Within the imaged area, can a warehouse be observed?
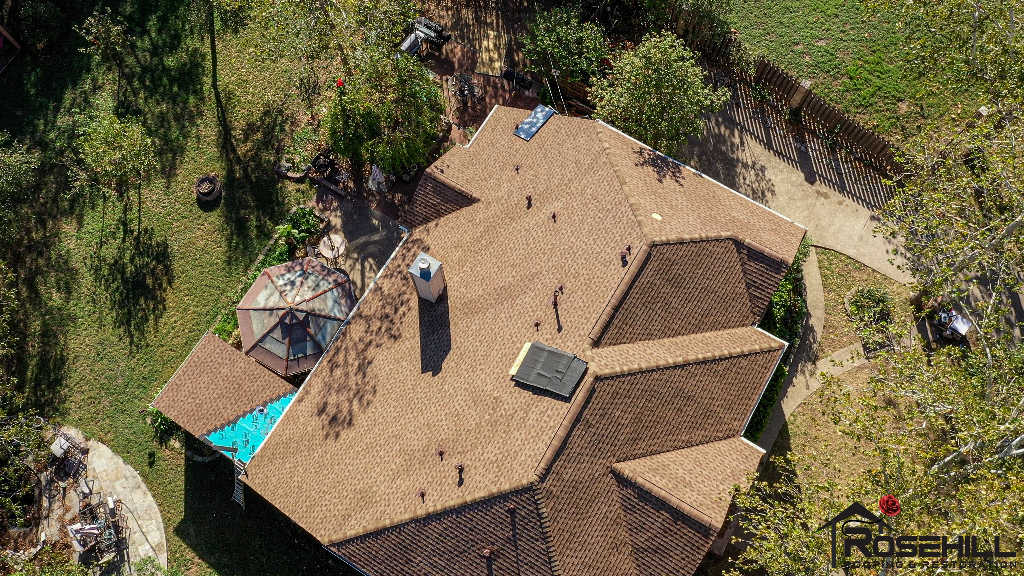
No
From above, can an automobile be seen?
No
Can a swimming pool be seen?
No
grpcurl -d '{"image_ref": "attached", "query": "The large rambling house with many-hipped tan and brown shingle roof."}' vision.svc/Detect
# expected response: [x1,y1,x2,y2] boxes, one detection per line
[232,105,810,576]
